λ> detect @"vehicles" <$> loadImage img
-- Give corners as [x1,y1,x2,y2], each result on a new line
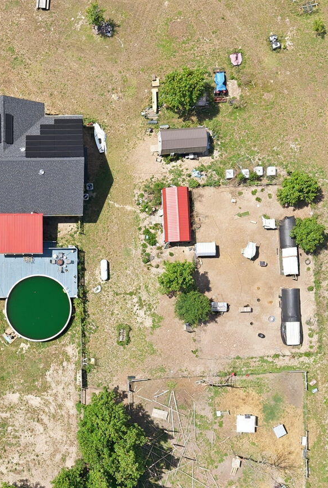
[269,32,283,50]
[213,63,230,101]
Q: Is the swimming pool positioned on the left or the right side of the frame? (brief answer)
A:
left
